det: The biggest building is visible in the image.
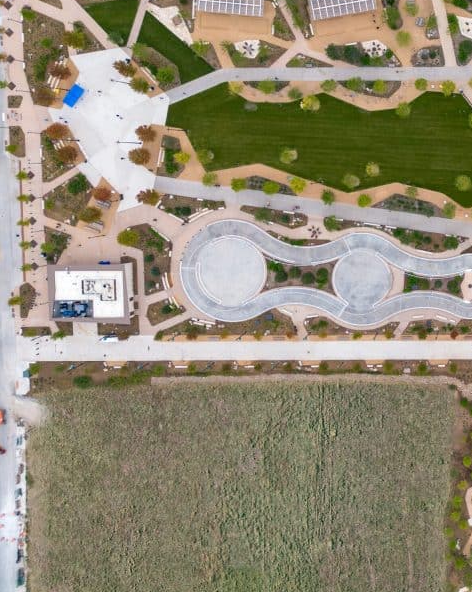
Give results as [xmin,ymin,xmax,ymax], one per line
[47,262,138,324]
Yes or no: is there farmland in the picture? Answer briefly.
Yes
